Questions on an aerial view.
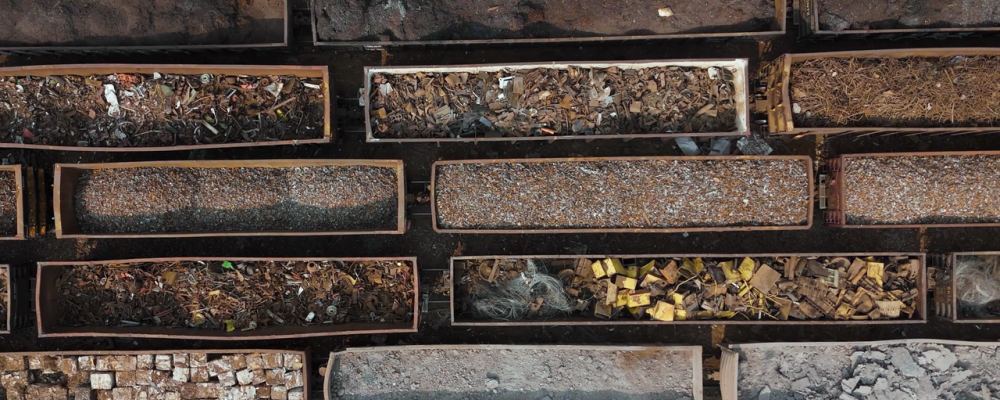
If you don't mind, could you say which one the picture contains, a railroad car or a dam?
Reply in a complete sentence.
This aerial view contains a railroad car.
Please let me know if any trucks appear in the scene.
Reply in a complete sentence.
No, the picture doesn't show any truck.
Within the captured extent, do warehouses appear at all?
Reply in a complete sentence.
No, I find no warehouse anywhere in the image.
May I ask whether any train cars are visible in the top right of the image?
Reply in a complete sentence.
Yes, I can see a train car in the top right of the image.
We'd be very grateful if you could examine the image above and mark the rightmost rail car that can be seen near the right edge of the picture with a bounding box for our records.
[911,246,1000,323]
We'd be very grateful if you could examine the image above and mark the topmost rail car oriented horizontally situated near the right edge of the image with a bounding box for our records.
[785,0,1000,49]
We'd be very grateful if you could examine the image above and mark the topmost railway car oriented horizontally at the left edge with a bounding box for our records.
[0,0,314,61]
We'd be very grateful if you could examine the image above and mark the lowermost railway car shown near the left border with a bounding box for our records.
[0,338,327,400]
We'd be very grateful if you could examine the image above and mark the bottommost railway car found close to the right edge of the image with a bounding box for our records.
[704,331,1000,400]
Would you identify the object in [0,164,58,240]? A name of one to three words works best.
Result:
rail car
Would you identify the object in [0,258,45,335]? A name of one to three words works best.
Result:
rail car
